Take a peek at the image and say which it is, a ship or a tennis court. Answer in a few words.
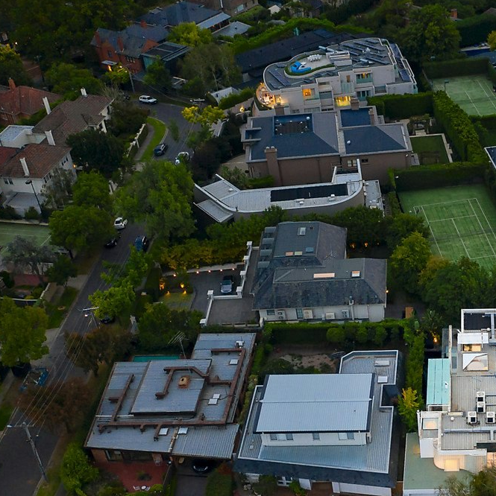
tennis court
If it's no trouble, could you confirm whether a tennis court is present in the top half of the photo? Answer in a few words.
Yes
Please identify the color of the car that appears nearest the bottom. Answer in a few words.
black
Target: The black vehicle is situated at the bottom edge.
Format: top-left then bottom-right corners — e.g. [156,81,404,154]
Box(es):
[191,456,211,481]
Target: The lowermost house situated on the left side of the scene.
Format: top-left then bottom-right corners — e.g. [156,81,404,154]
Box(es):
[87,333,256,467]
